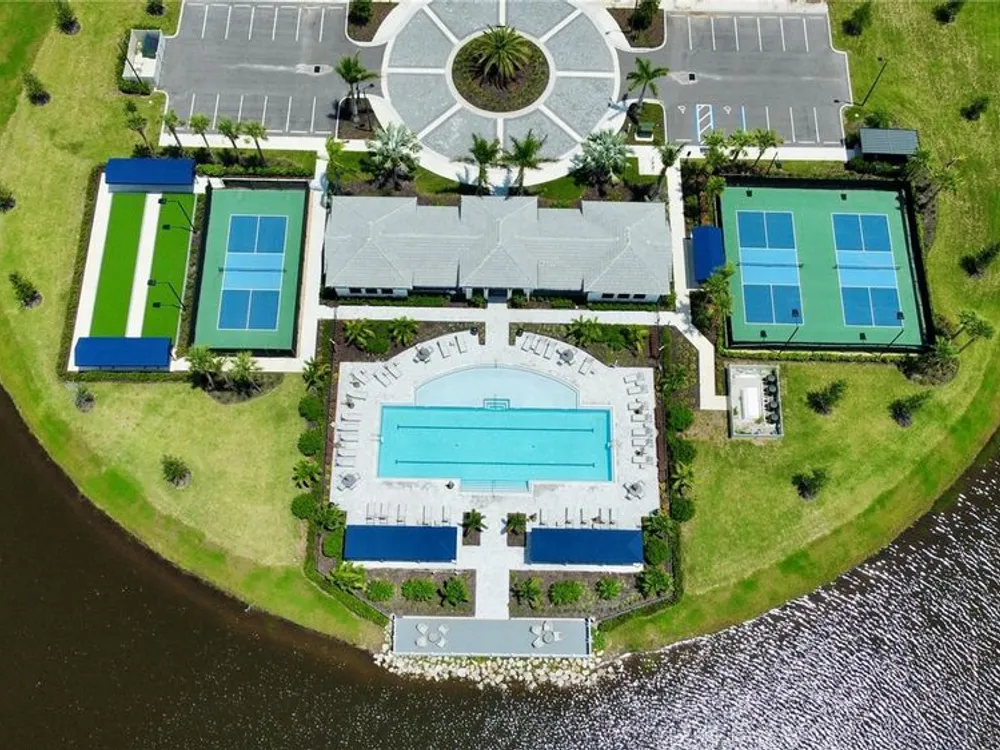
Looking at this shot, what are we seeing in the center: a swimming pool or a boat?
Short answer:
swimming pool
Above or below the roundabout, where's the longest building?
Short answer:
below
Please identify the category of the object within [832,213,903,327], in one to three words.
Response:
sports court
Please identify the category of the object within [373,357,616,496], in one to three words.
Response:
swimming pool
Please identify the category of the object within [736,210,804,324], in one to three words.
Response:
sports court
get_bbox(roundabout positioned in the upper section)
[383,0,619,174]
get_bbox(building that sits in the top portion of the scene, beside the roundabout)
[323,195,671,304]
